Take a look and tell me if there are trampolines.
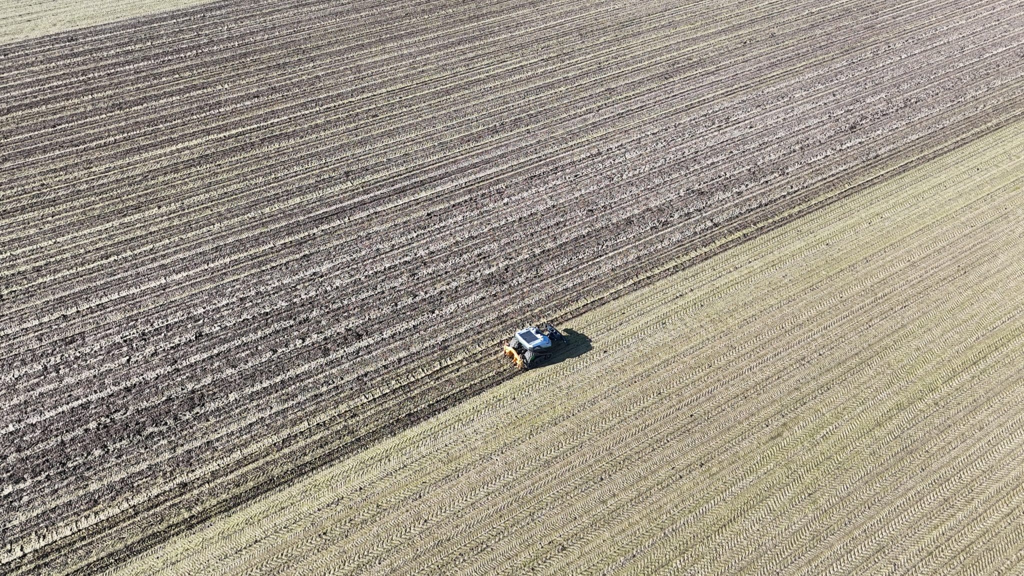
No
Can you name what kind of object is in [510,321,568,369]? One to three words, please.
work vehicle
